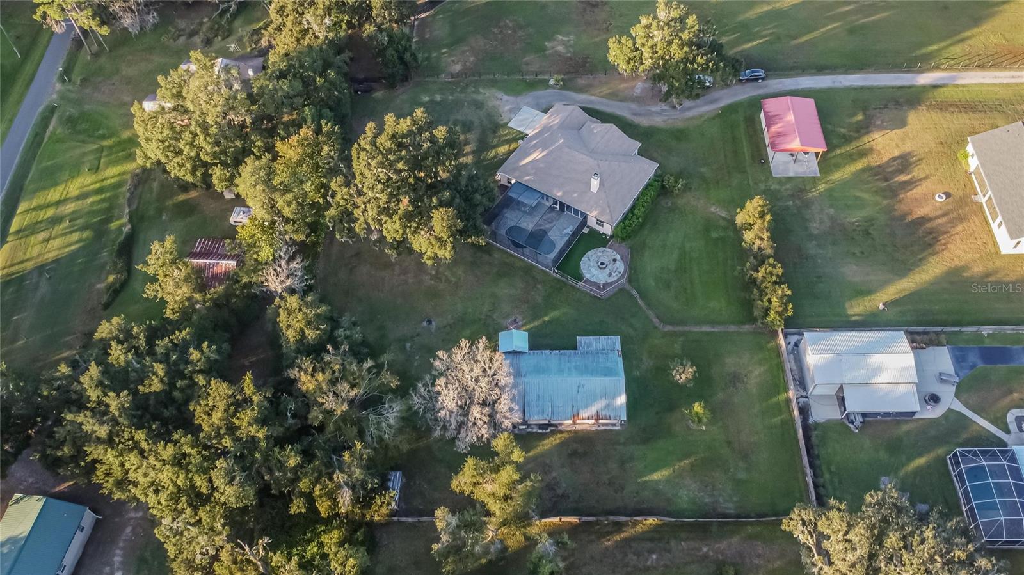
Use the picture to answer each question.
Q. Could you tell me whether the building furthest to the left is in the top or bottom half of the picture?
bottom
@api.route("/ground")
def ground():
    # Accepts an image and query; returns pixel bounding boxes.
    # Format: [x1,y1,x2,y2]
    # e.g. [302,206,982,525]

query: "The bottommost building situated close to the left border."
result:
[0,494,107,575]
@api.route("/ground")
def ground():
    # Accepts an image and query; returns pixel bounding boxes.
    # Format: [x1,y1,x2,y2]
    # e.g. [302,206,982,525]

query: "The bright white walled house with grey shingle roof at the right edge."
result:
[962,130,1024,255]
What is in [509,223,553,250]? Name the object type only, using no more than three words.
swimming pool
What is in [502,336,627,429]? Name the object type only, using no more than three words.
barn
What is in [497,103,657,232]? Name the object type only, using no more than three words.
house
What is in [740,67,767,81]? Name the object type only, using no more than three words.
car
